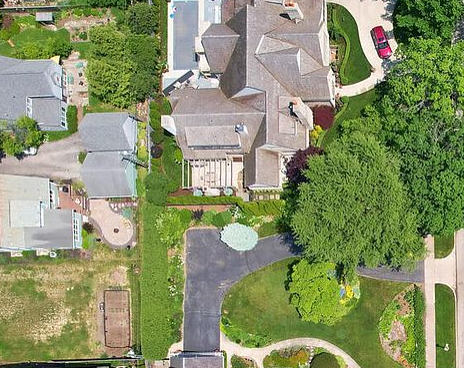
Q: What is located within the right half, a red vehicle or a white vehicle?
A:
red vehicle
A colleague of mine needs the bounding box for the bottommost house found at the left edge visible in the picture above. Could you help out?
[0,175,82,253]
